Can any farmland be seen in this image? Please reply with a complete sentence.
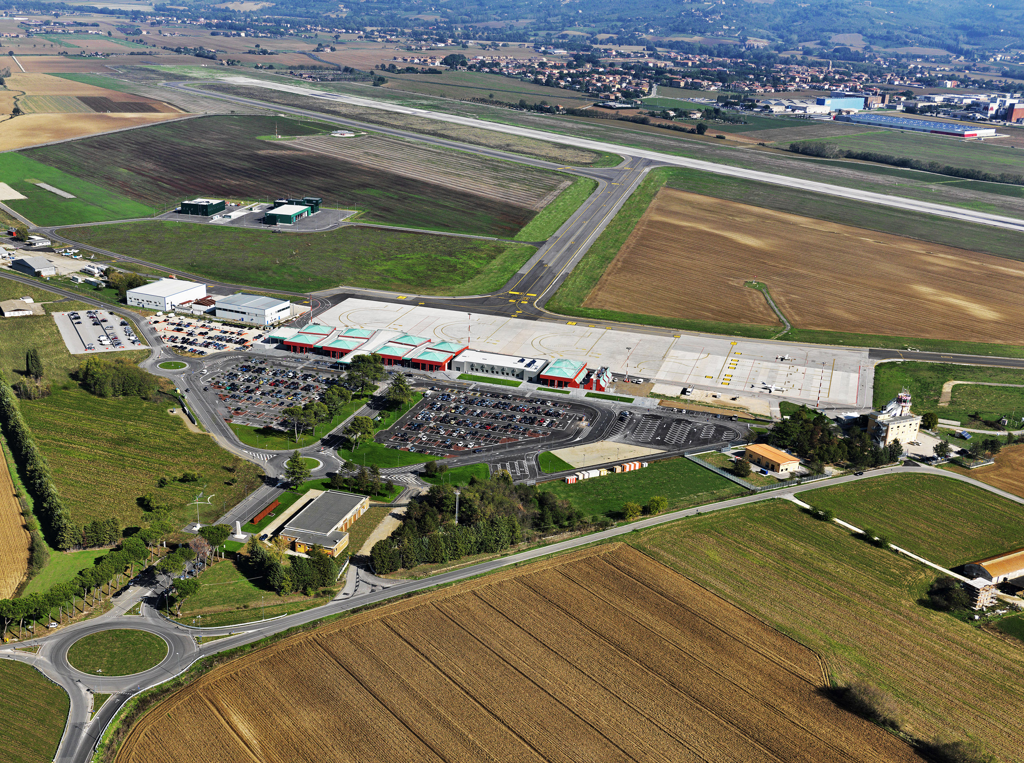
Yes, there's farmland in this view.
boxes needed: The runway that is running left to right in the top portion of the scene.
[217,77,1024,231]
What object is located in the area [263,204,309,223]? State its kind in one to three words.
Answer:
building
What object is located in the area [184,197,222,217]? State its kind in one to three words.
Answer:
building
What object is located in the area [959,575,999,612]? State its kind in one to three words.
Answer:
house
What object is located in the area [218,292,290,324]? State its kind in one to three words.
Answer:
hangar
